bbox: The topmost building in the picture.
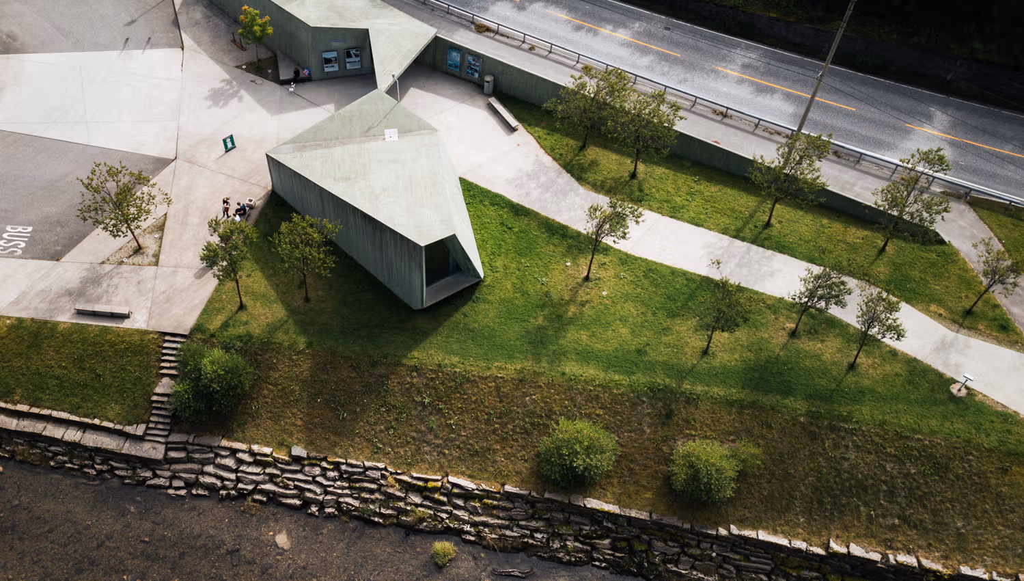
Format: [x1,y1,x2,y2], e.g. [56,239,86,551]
[211,0,437,95]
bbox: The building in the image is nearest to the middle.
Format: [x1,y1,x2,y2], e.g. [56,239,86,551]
[267,90,482,309]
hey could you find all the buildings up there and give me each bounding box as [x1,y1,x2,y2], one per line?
[211,0,437,95]
[267,90,482,309]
